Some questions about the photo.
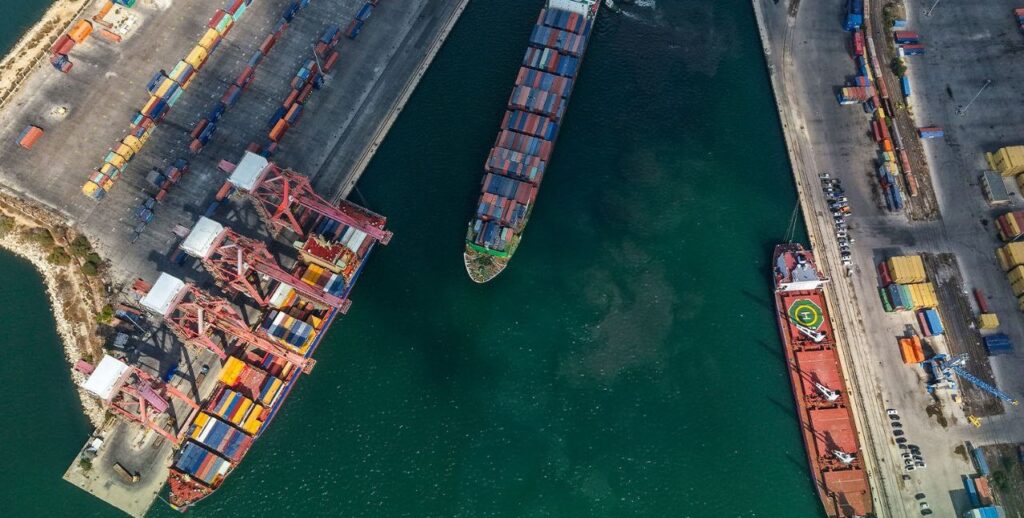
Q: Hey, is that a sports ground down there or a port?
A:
port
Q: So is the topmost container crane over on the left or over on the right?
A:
left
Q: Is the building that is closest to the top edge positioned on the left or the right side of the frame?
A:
right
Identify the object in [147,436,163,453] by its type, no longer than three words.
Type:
vehicle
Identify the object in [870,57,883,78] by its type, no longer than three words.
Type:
rail car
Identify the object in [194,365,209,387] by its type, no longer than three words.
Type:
vehicle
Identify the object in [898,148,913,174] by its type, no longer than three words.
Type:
rail car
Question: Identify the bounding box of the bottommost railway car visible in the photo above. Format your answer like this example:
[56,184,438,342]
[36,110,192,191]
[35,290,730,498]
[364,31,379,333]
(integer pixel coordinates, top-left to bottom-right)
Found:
[904,172,919,197]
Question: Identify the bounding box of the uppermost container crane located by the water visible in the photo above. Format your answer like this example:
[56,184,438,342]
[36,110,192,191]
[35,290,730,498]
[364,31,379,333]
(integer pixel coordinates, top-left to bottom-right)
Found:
[218,149,396,243]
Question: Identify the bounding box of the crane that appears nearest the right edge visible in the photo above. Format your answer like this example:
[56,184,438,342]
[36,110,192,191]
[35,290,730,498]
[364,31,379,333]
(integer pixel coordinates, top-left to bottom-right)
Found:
[921,353,1019,408]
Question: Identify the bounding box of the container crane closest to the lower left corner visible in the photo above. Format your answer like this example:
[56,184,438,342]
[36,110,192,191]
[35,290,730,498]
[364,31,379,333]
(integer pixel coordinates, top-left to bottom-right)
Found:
[72,353,202,443]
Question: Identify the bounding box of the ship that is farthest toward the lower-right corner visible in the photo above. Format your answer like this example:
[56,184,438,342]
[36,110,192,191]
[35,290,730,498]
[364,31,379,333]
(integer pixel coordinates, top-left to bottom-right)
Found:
[767,241,875,518]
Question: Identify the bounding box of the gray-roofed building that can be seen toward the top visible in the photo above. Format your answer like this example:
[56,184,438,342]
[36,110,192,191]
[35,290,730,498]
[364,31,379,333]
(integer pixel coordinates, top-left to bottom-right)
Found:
[975,172,1010,207]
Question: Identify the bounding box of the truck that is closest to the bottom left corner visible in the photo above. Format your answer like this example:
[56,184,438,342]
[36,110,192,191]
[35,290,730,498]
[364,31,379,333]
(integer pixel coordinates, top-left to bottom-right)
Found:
[112,462,136,483]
